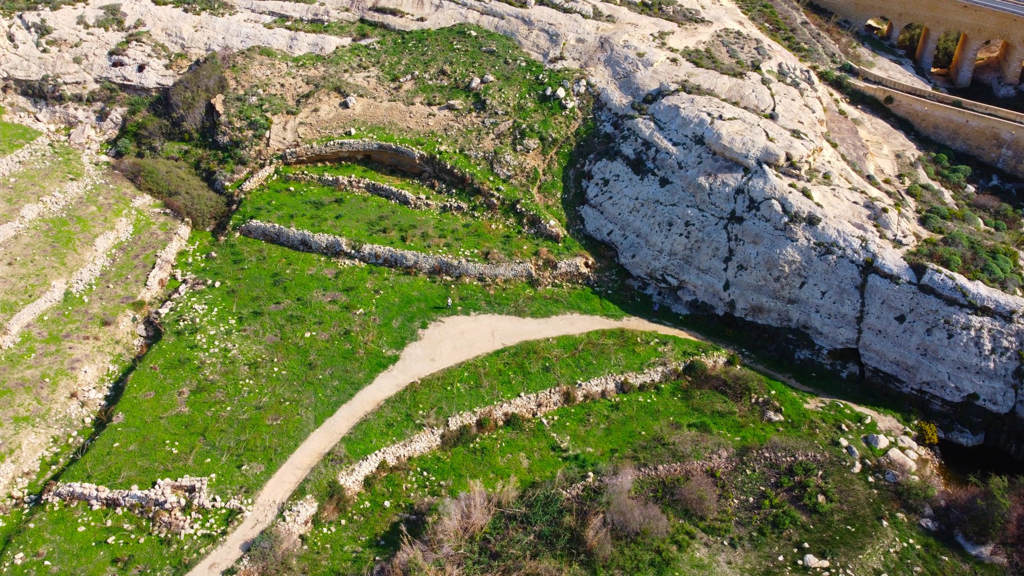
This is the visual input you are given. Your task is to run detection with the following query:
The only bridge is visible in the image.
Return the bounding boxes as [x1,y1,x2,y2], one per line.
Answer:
[837,0,1024,97]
